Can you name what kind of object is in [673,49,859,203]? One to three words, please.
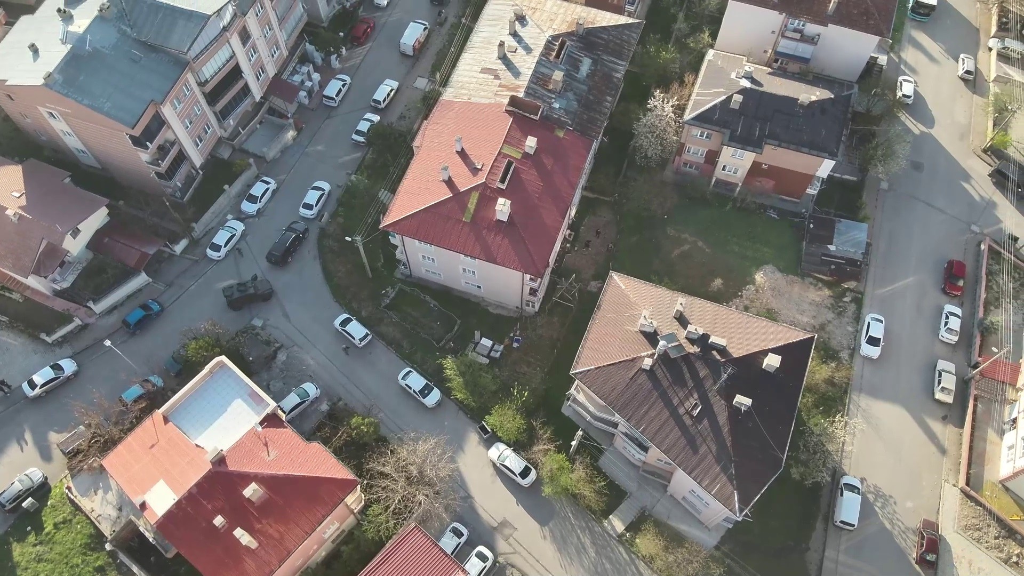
house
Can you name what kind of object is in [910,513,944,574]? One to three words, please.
car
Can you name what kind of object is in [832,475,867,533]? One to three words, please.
van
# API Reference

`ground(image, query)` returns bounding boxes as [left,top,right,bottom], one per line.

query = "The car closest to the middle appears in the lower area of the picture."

[395,367,442,411]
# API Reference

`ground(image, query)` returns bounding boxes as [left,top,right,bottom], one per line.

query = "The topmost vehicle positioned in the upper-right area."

[903,0,937,21]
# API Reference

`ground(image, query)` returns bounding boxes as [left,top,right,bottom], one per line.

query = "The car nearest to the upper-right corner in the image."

[994,40,1024,62]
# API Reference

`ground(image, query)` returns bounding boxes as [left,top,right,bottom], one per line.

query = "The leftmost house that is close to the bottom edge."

[102,356,370,576]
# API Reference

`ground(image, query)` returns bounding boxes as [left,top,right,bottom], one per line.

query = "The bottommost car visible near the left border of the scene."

[0,466,53,513]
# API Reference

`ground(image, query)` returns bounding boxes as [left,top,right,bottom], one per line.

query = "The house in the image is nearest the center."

[379,99,599,307]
